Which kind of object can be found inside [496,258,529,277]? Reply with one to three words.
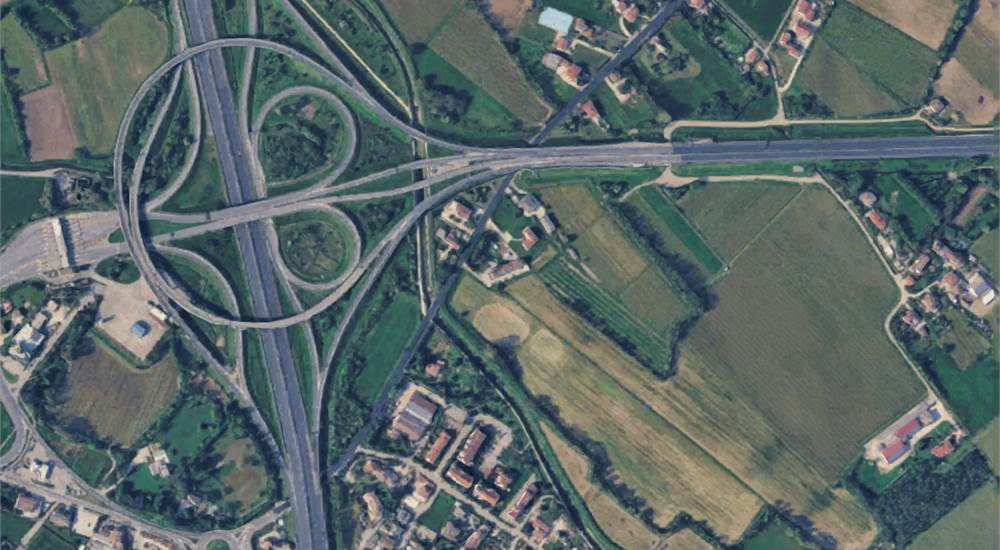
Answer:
house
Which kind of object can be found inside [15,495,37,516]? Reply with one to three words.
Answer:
house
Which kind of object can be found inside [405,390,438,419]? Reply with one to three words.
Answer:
building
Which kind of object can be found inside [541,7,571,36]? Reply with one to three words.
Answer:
building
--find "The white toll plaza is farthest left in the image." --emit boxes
[36,217,86,269]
